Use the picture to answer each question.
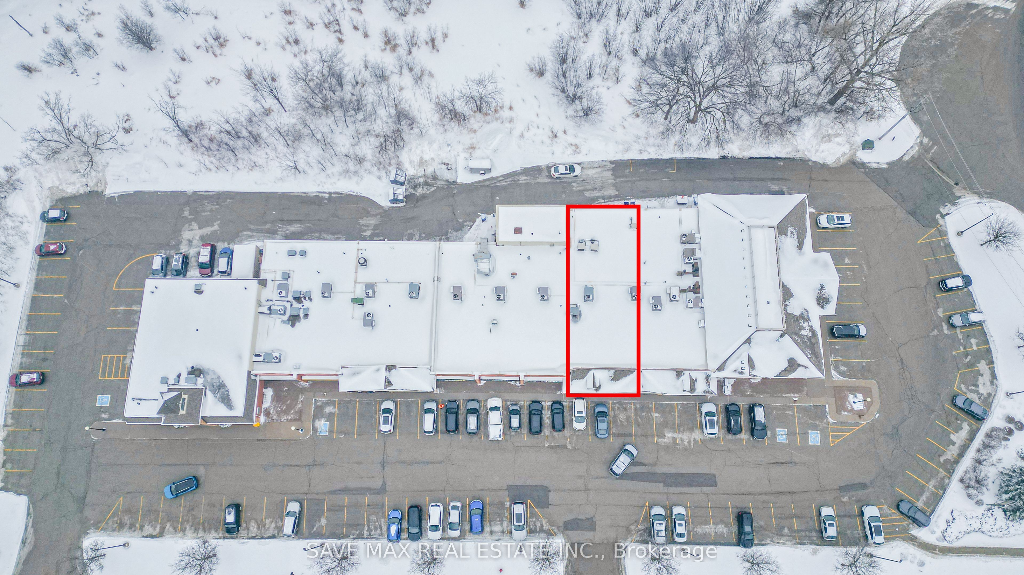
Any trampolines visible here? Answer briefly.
No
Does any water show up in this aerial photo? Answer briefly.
No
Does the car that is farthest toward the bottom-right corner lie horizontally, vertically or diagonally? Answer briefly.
diagonally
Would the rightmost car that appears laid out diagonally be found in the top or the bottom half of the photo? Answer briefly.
bottom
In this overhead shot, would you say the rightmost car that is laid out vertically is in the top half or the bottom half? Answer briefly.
bottom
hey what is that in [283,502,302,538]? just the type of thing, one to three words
car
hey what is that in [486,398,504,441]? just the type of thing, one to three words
vehicle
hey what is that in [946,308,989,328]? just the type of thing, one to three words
vehicle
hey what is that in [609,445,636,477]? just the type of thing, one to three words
car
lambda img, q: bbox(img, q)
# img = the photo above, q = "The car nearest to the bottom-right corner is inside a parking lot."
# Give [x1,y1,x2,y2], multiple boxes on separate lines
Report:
[895,499,932,530]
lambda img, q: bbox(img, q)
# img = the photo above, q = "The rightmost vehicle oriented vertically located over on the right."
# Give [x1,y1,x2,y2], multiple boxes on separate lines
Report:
[861,505,886,546]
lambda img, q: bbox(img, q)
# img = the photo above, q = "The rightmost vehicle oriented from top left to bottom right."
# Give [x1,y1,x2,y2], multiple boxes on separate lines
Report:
[950,393,991,423]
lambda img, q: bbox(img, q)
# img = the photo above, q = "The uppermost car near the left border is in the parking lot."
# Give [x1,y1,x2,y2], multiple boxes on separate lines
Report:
[39,209,70,224]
